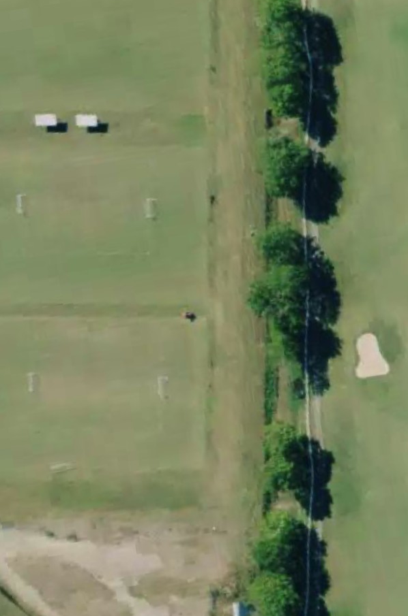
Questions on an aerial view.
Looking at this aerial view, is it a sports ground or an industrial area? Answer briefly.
sports ground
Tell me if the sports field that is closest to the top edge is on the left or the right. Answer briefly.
left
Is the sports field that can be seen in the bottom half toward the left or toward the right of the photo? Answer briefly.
left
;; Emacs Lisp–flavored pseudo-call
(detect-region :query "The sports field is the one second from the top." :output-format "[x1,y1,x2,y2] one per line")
[0,146,203,305]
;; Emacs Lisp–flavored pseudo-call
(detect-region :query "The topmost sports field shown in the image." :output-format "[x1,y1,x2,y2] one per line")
[0,0,206,116]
